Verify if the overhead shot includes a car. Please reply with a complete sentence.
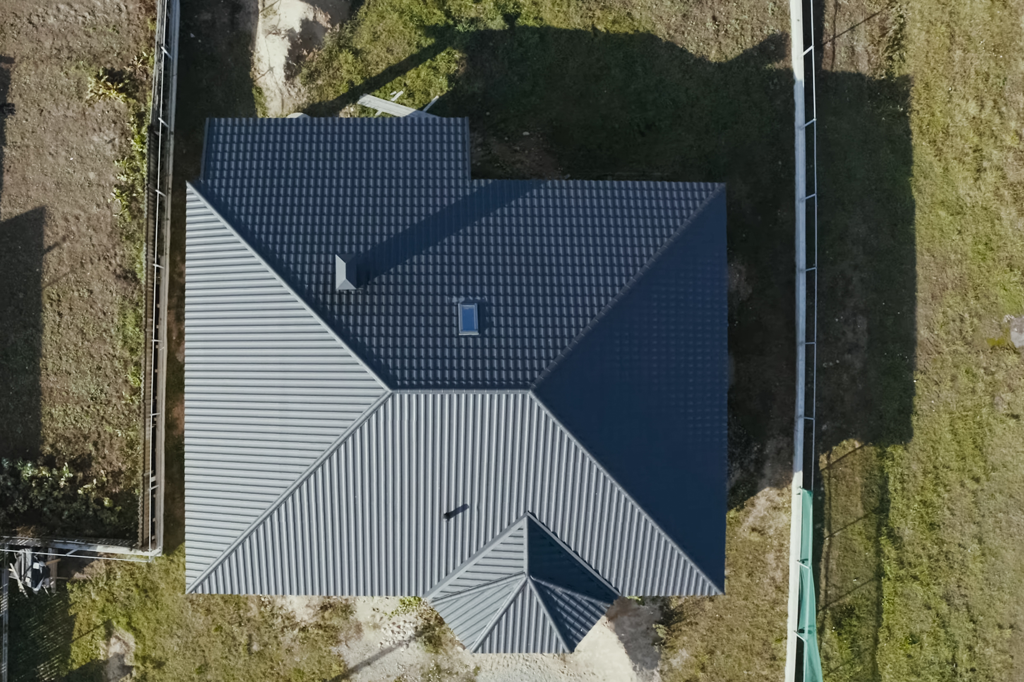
No, no car can be seen from above.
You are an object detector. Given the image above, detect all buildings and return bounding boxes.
[184,116,727,655]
